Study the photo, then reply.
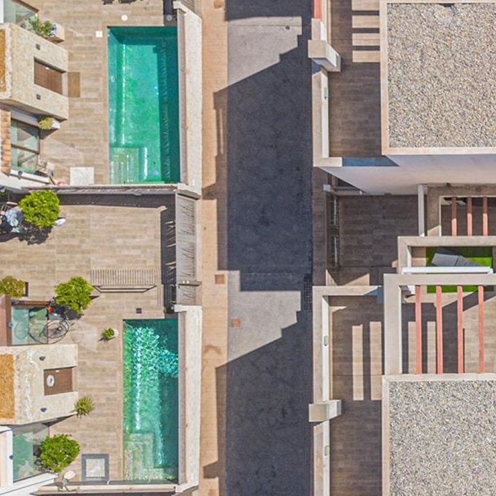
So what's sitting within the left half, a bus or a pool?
pool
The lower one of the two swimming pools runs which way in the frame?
from top to bottom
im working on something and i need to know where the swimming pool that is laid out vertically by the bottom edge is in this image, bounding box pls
[120,316,177,478]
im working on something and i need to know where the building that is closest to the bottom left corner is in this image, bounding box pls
[0,299,77,487]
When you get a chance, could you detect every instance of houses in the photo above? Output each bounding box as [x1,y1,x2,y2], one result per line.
[307,0,496,191]
[0,299,77,487]
[0,0,68,176]
[307,238,496,496]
